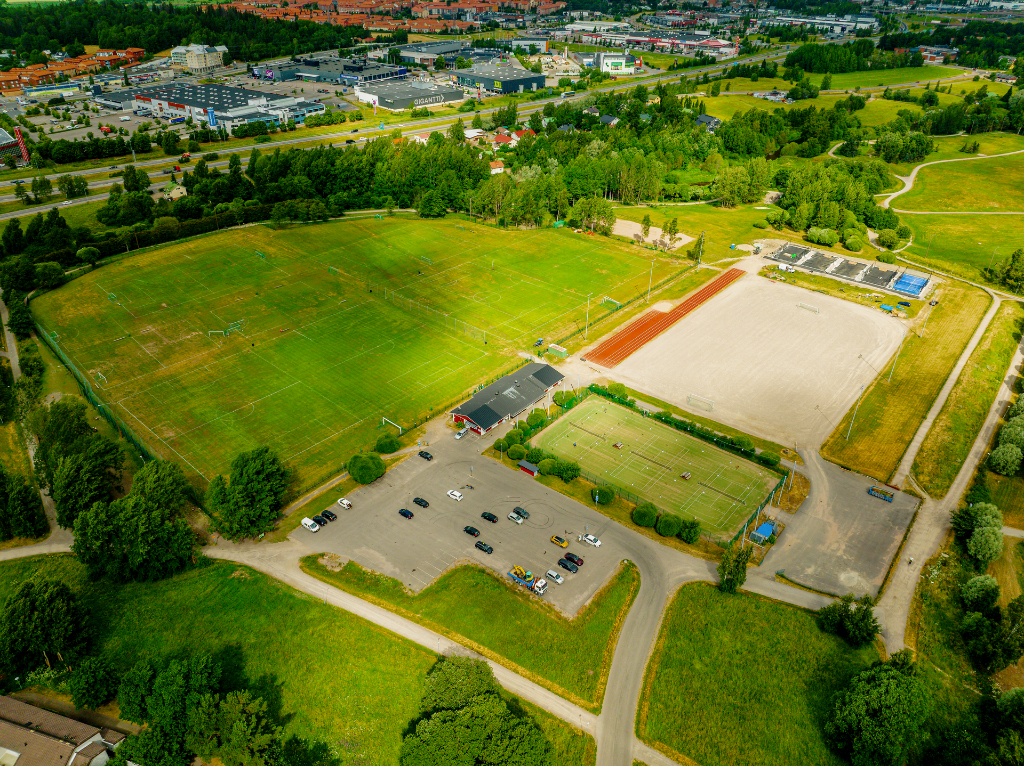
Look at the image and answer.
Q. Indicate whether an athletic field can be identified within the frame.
Yes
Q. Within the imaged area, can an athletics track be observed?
Yes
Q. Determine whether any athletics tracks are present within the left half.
No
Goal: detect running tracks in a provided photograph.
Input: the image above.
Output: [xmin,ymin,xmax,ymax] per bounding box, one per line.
[583,268,743,368]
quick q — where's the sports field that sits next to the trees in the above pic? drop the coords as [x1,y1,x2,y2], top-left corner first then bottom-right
[32,214,697,533]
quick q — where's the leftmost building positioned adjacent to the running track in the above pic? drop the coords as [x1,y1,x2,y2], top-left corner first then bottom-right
[450,362,565,437]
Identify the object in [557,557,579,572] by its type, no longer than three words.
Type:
car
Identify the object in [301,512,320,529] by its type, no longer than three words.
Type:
vehicle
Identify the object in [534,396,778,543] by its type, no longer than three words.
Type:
sports court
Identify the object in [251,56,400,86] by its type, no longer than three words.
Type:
building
